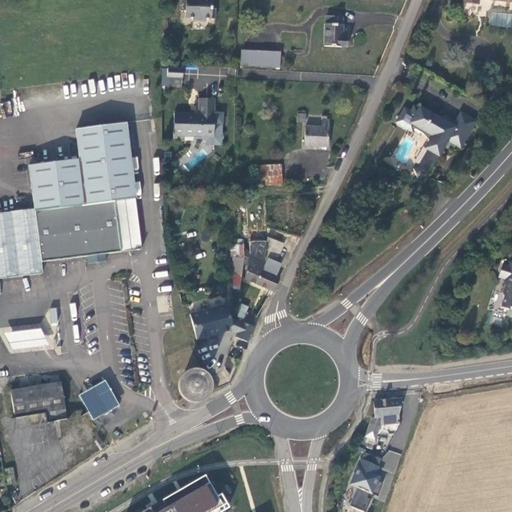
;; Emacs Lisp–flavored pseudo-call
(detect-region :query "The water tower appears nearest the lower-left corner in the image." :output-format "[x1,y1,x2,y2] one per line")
[178,368,214,404]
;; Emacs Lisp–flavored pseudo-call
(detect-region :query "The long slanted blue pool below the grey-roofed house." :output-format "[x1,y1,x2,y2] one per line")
[185,148,209,172]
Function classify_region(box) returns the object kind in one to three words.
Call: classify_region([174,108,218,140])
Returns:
house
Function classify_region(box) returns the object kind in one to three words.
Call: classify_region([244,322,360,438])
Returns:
roundabout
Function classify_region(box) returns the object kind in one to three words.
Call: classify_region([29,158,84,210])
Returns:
building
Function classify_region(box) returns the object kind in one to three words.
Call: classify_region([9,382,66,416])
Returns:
shed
